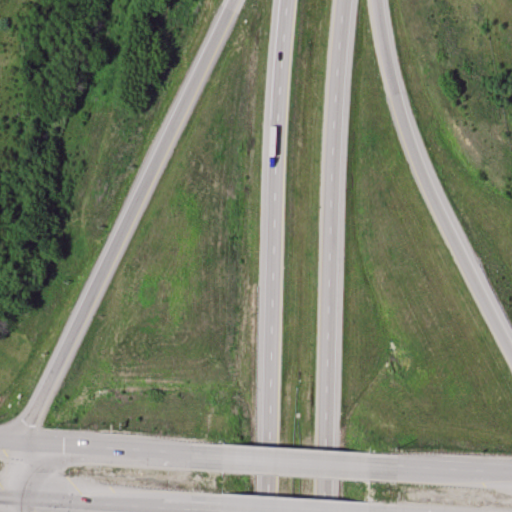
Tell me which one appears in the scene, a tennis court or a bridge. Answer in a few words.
bridge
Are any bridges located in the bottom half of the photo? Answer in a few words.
Yes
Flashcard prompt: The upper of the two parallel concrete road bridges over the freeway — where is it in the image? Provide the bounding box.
[217,444,370,481]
